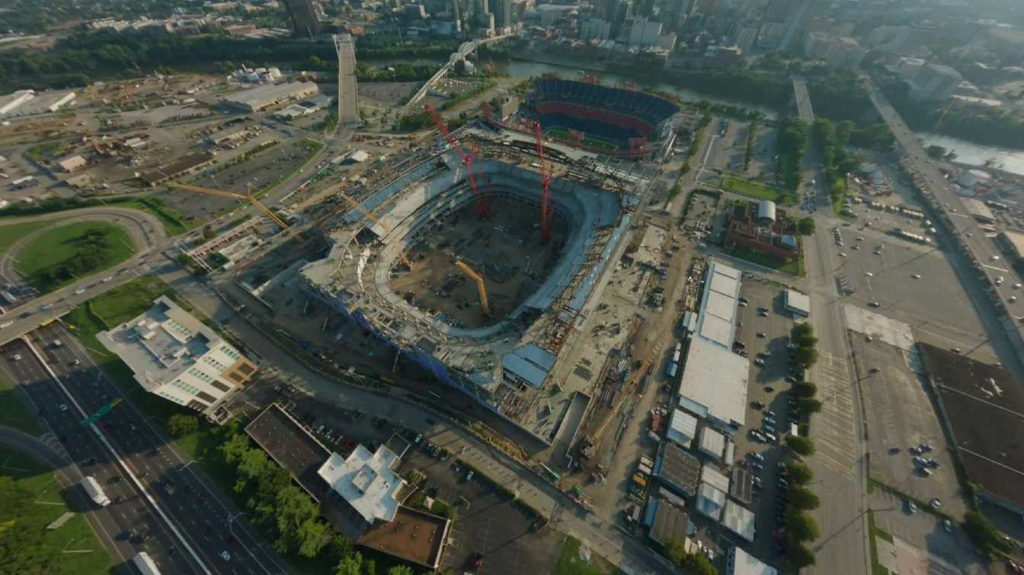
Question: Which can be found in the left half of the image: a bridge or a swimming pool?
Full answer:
It is a bridge that can be seen in the left half of the image.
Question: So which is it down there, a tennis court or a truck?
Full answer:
There is a truck in the scene.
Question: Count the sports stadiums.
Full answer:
The picture shows 2 sports stadiums.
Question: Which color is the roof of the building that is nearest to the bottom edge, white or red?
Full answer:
From above, the roof of the building that is nearest to the bottom edge appears white.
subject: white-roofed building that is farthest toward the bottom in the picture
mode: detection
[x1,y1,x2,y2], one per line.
[720,547,777,575]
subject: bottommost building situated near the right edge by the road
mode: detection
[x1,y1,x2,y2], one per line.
[905,342,1024,521]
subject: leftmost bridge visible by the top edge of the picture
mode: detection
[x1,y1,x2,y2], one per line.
[325,24,359,120]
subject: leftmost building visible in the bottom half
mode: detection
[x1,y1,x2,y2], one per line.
[96,293,260,424]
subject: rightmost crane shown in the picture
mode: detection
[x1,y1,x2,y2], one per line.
[579,362,651,458]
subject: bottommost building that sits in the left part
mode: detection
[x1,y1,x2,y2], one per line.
[355,506,453,569]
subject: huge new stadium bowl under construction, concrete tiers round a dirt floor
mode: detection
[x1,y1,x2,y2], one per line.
[297,150,636,447]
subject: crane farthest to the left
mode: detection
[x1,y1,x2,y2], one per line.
[169,180,294,236]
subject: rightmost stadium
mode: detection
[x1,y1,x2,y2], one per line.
[482,74,681,164]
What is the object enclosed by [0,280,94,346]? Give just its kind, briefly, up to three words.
overpass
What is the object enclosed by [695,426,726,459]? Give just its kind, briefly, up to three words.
building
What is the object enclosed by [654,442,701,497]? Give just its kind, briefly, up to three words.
building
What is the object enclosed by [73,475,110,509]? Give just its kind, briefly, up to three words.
truck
